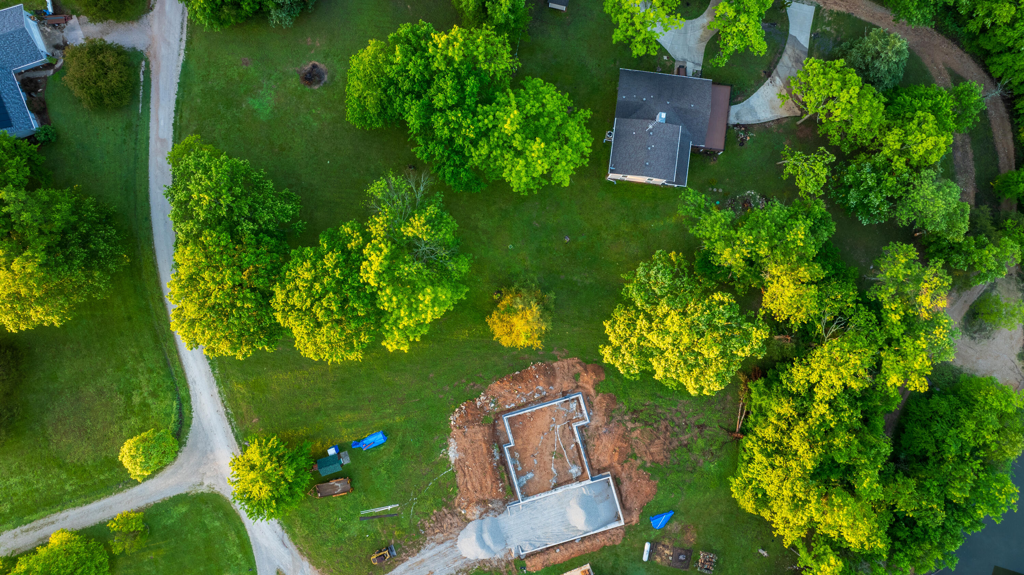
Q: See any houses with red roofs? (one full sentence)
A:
No, the scene contains no house with a red roof.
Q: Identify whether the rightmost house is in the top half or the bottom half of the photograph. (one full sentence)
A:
It is in the top half that the rightmost house appears.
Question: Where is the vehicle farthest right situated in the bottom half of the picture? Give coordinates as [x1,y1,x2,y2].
[371,544,398,565]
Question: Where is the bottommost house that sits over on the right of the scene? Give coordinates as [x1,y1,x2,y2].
[594,68,733,187]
